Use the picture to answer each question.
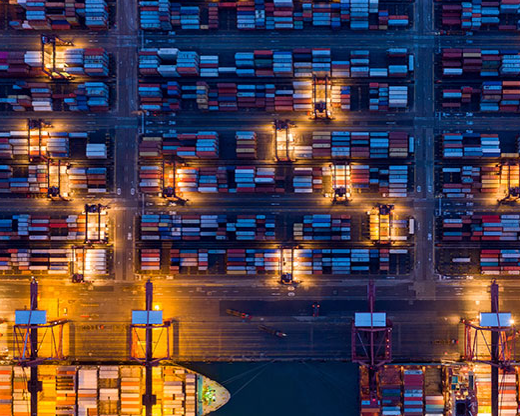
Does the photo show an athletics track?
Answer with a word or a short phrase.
No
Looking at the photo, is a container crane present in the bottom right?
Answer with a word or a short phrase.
Yes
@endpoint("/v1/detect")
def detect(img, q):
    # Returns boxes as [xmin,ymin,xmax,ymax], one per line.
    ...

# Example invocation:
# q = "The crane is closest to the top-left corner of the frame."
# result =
[40,35,67,79]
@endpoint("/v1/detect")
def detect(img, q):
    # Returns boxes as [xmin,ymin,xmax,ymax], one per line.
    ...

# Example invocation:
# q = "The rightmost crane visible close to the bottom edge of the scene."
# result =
[462,280,516,416]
